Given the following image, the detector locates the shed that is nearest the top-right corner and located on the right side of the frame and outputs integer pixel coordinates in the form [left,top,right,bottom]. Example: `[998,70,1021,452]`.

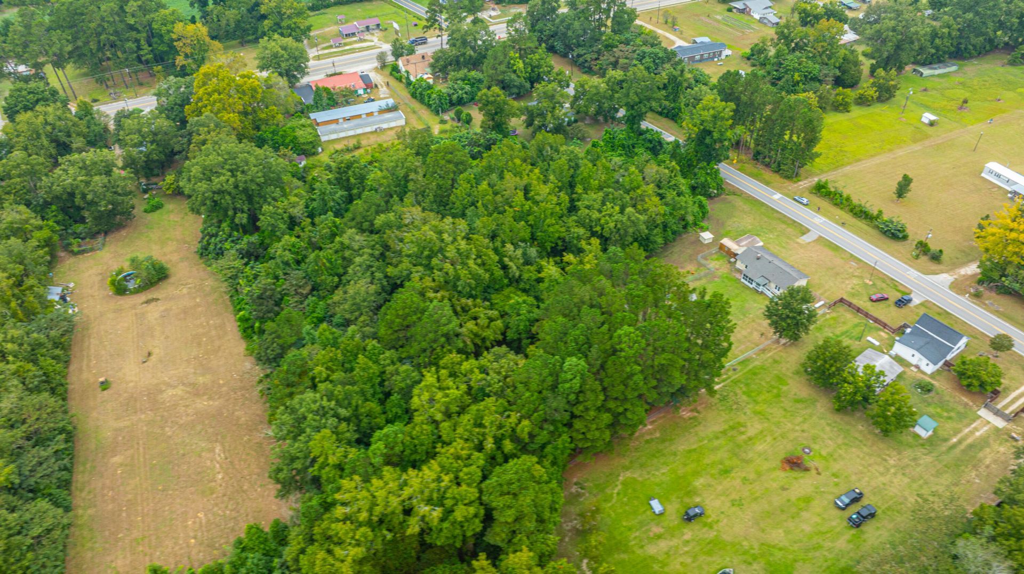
[912,60,960,76]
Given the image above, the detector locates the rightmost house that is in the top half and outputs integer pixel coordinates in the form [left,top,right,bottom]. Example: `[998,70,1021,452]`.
[981,162,1024,196]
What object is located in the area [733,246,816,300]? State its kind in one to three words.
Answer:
house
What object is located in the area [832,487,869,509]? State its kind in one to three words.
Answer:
truck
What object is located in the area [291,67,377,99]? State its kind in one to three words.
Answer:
building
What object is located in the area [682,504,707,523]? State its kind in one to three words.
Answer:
car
